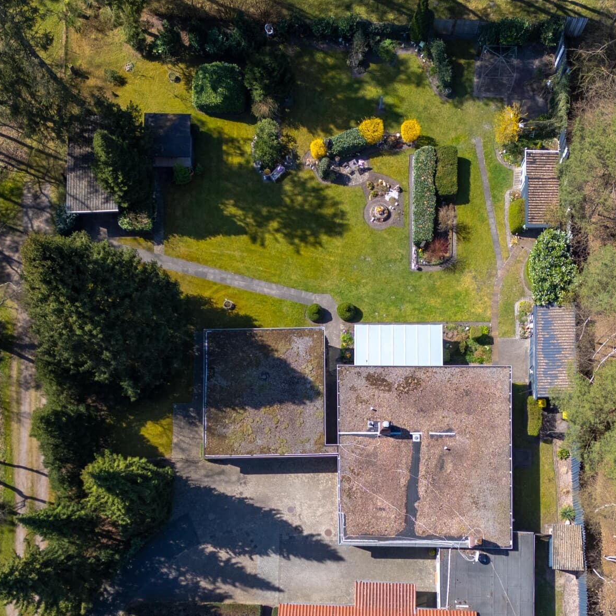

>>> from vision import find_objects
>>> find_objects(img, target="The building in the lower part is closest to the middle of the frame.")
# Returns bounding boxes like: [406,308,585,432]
[203,326,338,460]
